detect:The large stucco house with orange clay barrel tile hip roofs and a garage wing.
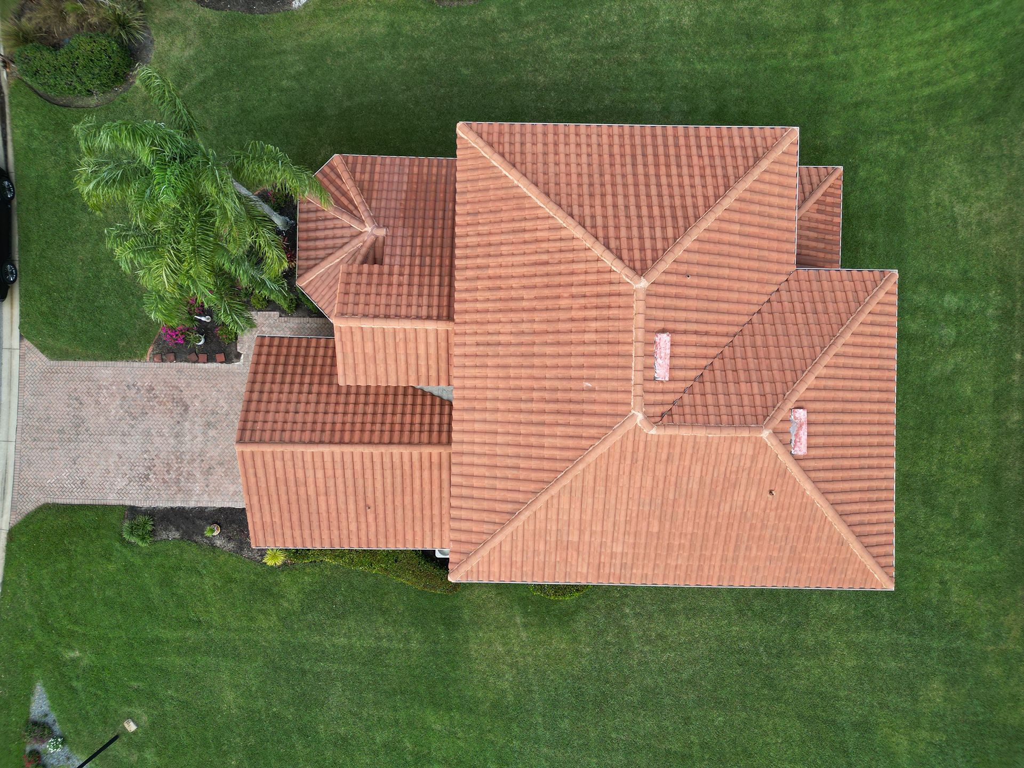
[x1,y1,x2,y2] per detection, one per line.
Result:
[232,120,901,589]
